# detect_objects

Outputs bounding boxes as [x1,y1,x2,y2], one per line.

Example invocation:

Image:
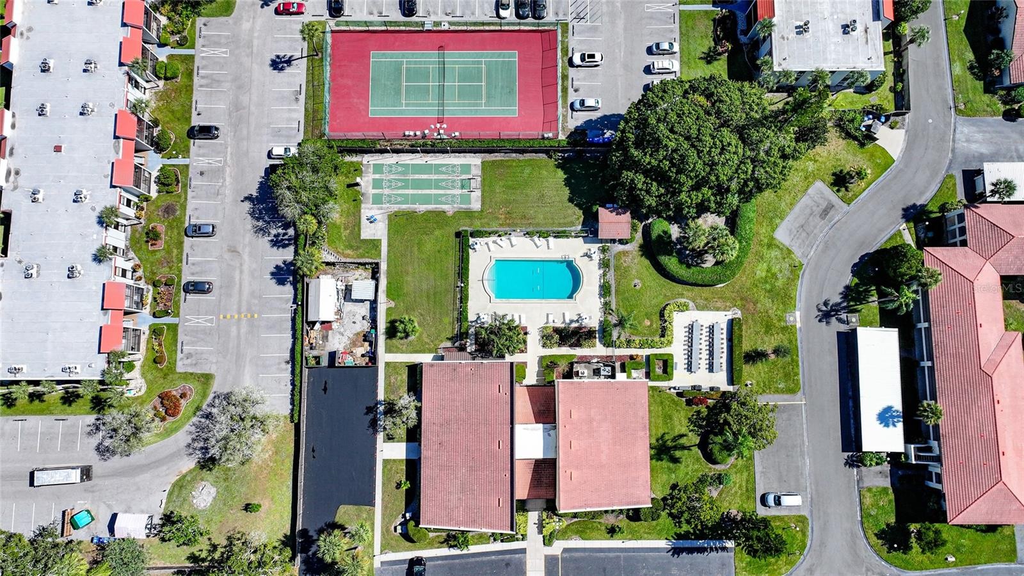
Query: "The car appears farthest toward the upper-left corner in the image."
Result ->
[187,125,219,138]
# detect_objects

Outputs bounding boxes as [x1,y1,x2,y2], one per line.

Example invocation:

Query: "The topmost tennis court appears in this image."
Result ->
[327,31,558,139]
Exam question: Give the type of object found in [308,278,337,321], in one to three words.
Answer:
shed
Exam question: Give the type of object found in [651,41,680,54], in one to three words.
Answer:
vehicle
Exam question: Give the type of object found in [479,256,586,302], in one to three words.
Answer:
swimming pool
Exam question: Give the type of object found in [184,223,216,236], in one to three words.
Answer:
vehicle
